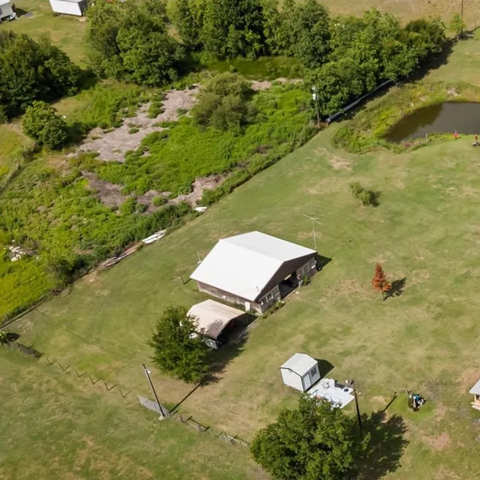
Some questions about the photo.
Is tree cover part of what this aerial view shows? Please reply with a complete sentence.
Yes, some tree cover is visible.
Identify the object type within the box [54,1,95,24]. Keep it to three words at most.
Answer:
shed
